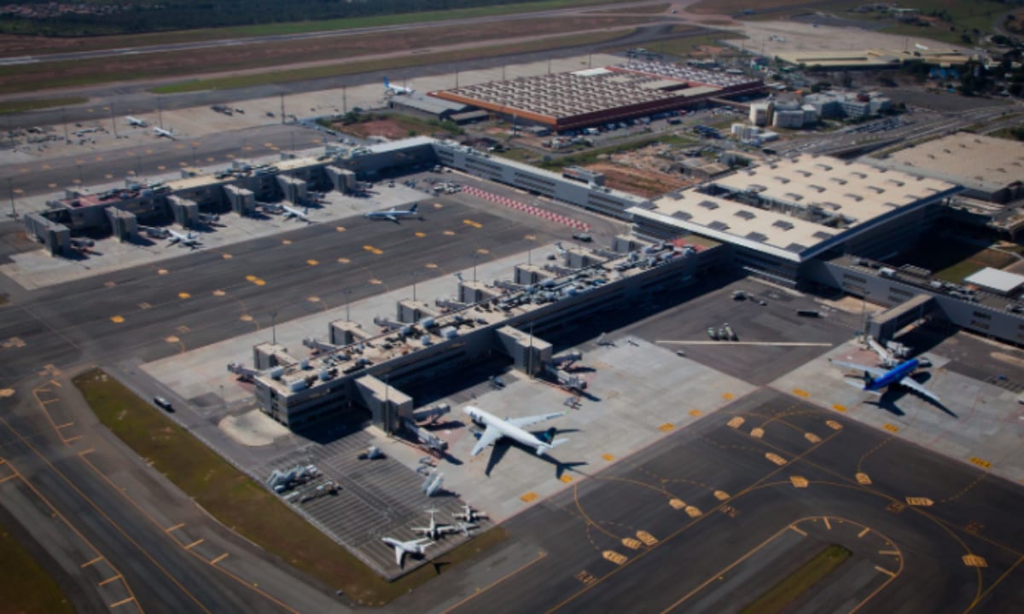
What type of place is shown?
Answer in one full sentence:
It's an airport.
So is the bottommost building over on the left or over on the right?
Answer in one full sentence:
The bottommost building sits on the right side.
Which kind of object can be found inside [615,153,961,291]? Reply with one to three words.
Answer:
building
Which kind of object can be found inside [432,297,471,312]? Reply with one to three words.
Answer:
jet bridge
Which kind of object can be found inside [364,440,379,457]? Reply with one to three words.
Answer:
work vehicle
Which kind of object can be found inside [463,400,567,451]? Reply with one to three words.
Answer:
airplane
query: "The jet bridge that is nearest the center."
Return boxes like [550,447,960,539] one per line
[491,279,525,293]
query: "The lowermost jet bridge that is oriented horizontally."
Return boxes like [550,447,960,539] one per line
[414,402,454,421]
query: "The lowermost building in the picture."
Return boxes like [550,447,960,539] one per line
[965,266,1024,301]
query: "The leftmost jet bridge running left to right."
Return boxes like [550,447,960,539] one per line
[69,236,97,250]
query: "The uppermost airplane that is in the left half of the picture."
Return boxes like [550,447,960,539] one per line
[386,78,415,94]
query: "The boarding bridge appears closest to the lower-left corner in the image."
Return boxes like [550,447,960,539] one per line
[224,362,259,385]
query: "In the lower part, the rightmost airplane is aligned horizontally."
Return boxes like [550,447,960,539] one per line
[837,353,939,396]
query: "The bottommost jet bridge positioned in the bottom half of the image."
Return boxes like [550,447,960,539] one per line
[404,419,450,454]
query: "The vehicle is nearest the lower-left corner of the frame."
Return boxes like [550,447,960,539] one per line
[154,393,171,409]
